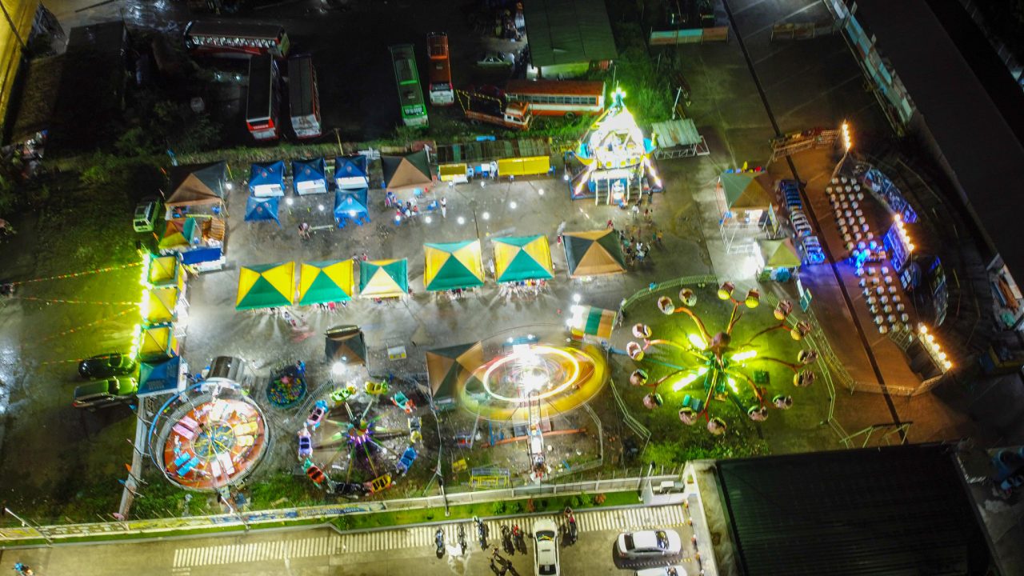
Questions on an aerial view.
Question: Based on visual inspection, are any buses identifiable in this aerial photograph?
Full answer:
Yes, the picture does show a bus.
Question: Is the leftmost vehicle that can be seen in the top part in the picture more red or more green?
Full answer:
The leftmost vehicle that can be seen in the top part looks green in the image.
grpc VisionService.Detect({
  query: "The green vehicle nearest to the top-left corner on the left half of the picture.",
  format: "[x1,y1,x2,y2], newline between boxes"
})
[129,200,160,241]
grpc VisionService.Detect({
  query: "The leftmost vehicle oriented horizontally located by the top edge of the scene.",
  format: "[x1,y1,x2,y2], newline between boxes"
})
[185,22,291,60]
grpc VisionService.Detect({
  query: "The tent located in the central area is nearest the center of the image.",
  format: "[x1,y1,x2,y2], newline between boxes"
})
[492,235,554,296]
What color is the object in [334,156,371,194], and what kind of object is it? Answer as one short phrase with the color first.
blue tent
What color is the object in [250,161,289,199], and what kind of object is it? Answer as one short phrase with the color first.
blue tent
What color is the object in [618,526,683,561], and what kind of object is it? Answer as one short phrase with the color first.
white car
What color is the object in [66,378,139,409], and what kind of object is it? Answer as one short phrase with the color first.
green truck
